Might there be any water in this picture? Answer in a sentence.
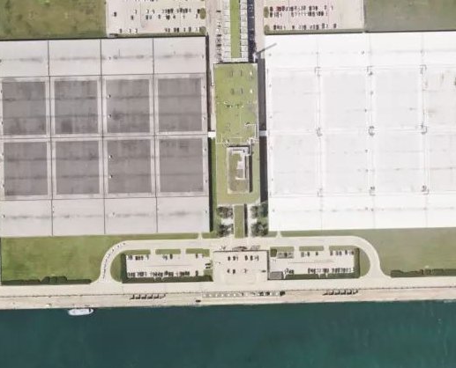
Yes, there's water in this view.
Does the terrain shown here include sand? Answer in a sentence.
No, there is no sand in the image.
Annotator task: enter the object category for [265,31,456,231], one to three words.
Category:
building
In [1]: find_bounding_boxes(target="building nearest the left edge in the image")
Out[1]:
[0,36,210,237]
